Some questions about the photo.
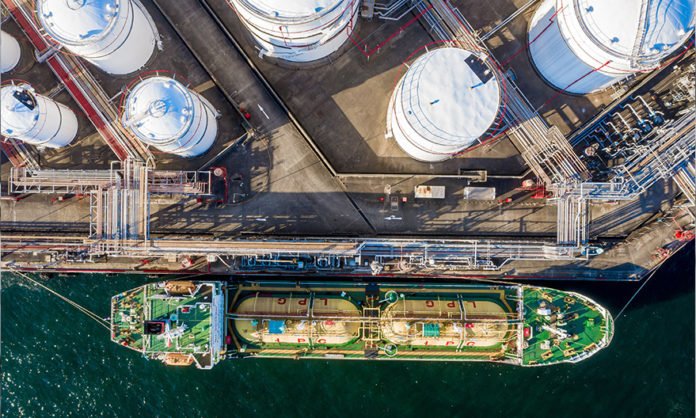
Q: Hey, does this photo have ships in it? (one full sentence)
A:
Yes, looking at the shot, I can spot a ship.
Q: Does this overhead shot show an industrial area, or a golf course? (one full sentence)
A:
This looks like an industrial area.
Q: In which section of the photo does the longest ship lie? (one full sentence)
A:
The longest ship sits in the bottom section of the image.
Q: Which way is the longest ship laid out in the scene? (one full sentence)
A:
The longest ship is oriented horizontally.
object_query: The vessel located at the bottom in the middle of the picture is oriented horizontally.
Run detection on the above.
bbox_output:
[109,279,616,370]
